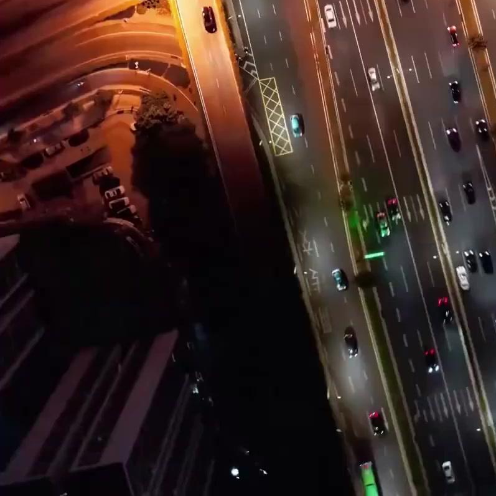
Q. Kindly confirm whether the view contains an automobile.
Yes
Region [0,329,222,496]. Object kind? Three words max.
building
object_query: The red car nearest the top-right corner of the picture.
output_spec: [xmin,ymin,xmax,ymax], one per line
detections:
[446,23,460,49]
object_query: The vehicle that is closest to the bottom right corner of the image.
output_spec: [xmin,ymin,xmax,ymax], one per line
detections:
[441,457,455,483]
